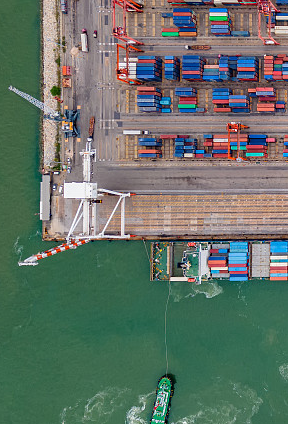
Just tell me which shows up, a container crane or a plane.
container crane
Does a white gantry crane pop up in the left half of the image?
Yes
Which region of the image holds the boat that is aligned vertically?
bottom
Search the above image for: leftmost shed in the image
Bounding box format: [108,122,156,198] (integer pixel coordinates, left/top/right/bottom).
[37,175,56,220]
